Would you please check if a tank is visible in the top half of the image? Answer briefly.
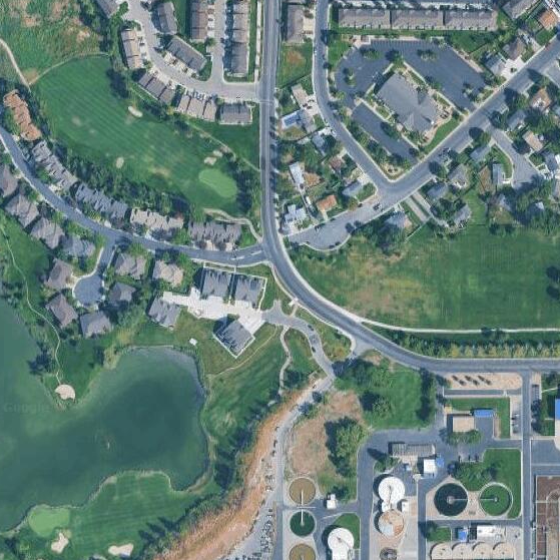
No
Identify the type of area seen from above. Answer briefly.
residential area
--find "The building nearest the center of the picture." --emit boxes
[234,275,265,304]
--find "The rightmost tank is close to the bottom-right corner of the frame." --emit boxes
[476,484,511,516]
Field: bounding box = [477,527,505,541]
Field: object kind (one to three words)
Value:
building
